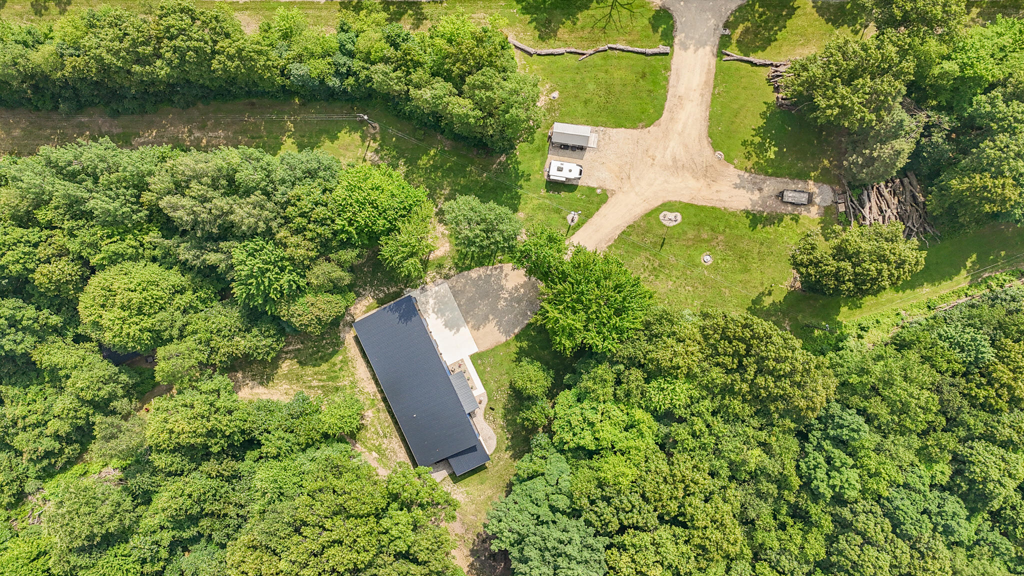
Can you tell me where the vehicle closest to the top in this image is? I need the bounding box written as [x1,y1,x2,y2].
[548,161,585,180]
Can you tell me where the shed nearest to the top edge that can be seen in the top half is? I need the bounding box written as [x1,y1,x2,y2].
[552,123,595,150]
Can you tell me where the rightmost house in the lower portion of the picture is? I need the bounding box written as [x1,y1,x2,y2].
[352,296,490,476]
